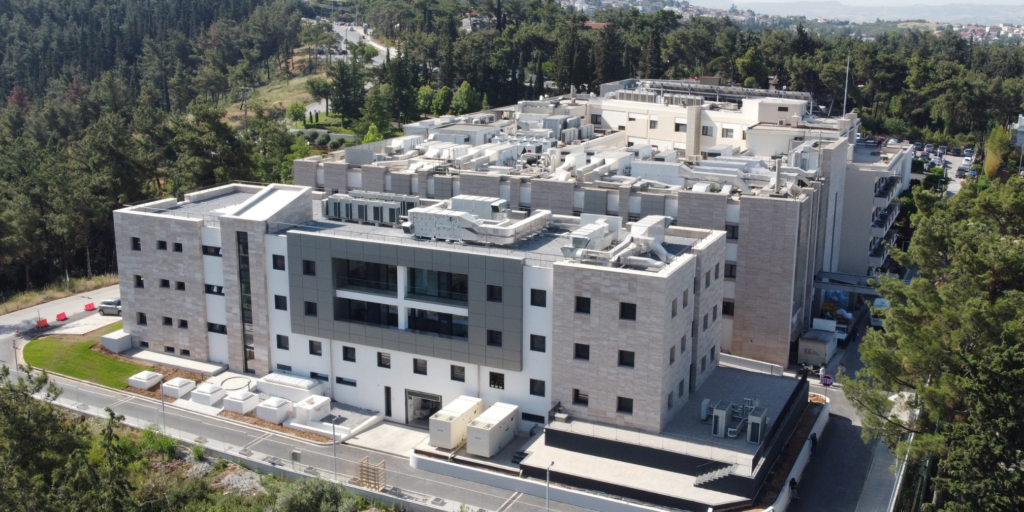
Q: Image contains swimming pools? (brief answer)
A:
No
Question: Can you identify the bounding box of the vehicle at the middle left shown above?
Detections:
[96,299,121,317]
